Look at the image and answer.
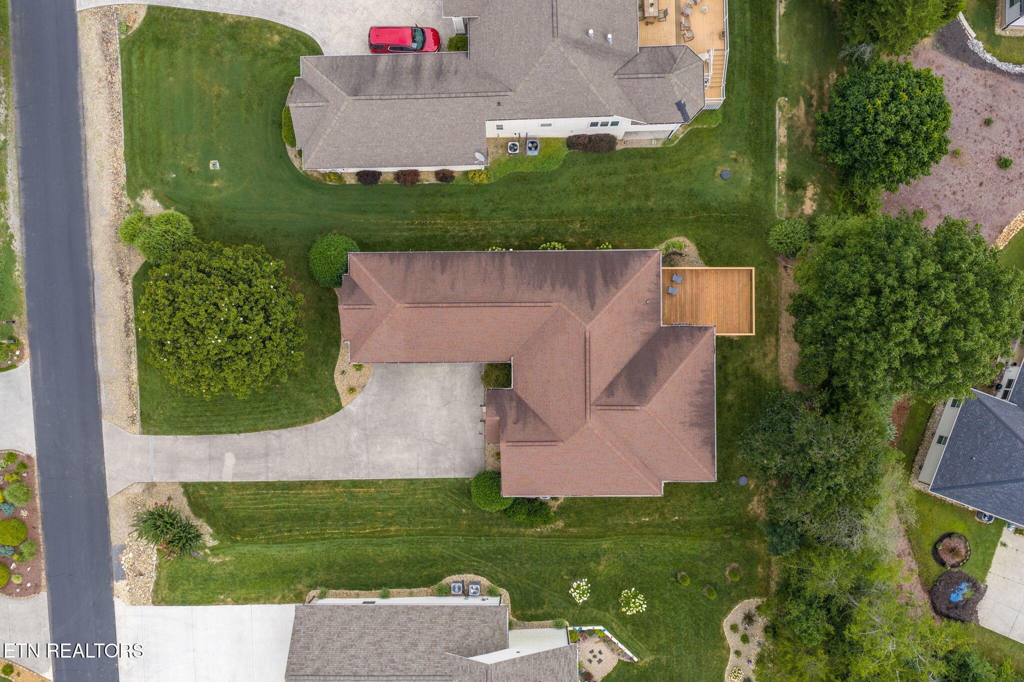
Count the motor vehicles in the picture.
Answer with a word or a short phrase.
one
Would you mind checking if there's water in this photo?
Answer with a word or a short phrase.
No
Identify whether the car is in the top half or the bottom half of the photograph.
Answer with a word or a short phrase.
top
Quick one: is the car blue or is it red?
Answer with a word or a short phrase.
red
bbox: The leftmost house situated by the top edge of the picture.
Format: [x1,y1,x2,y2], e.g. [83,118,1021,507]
[289,0,707,176]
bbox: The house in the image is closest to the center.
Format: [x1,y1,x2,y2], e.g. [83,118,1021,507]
[338,248,718,499]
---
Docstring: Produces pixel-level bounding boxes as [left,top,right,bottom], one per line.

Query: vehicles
[370,21,441,55]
